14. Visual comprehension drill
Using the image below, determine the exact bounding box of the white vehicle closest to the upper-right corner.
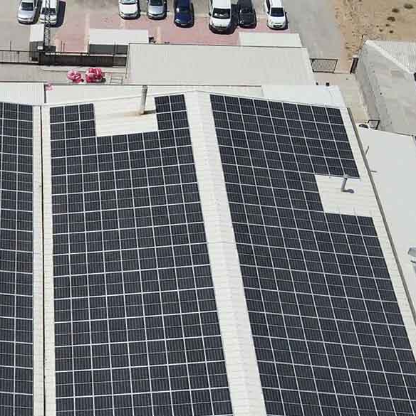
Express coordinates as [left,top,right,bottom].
[260,0,288,30]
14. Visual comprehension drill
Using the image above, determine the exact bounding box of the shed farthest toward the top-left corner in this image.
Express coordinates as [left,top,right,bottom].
[28,27,52,61]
